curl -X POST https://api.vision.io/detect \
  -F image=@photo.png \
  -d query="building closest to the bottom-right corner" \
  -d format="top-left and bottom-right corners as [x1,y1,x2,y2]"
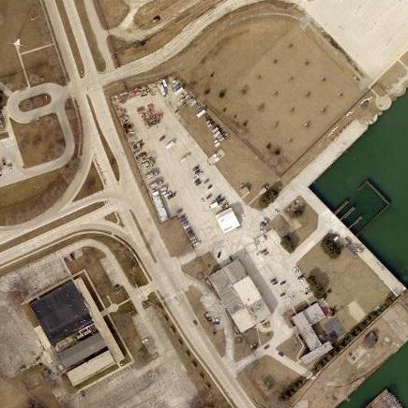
[300,342,334,366]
